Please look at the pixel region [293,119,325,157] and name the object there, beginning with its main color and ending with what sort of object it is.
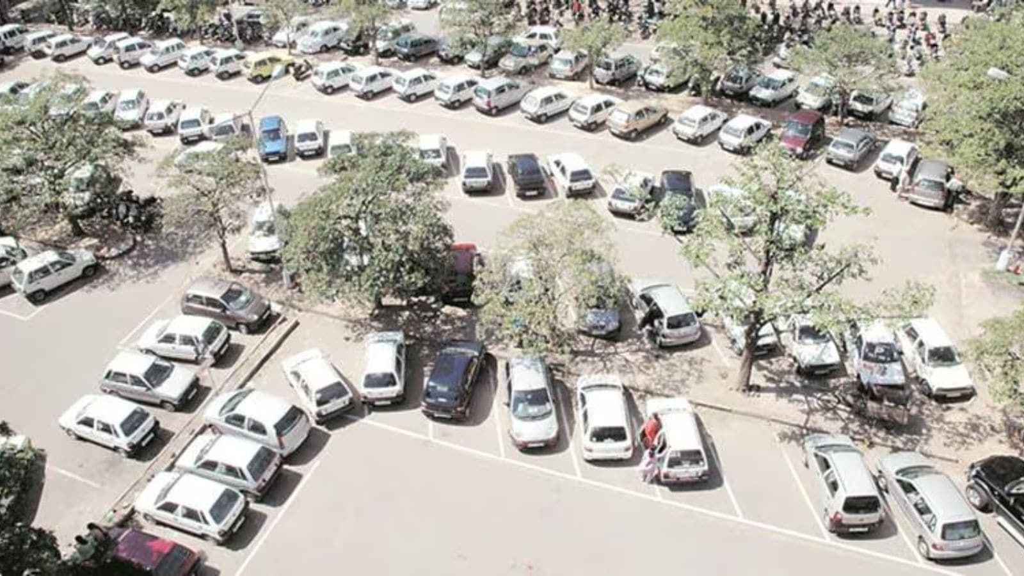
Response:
white car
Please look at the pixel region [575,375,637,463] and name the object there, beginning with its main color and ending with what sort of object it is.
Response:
white car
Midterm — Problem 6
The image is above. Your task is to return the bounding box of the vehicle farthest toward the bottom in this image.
[88,522,207,576]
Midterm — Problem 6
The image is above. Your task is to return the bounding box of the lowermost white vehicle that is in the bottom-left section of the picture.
[133,469,251,545]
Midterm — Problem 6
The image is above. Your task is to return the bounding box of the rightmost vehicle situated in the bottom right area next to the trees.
[959,457,1024,535]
